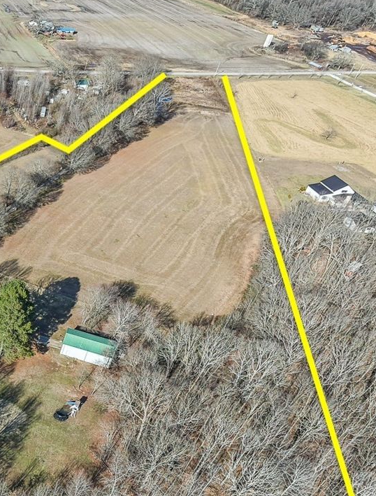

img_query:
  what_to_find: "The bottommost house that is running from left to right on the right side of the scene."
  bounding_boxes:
[301,176,357,202]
